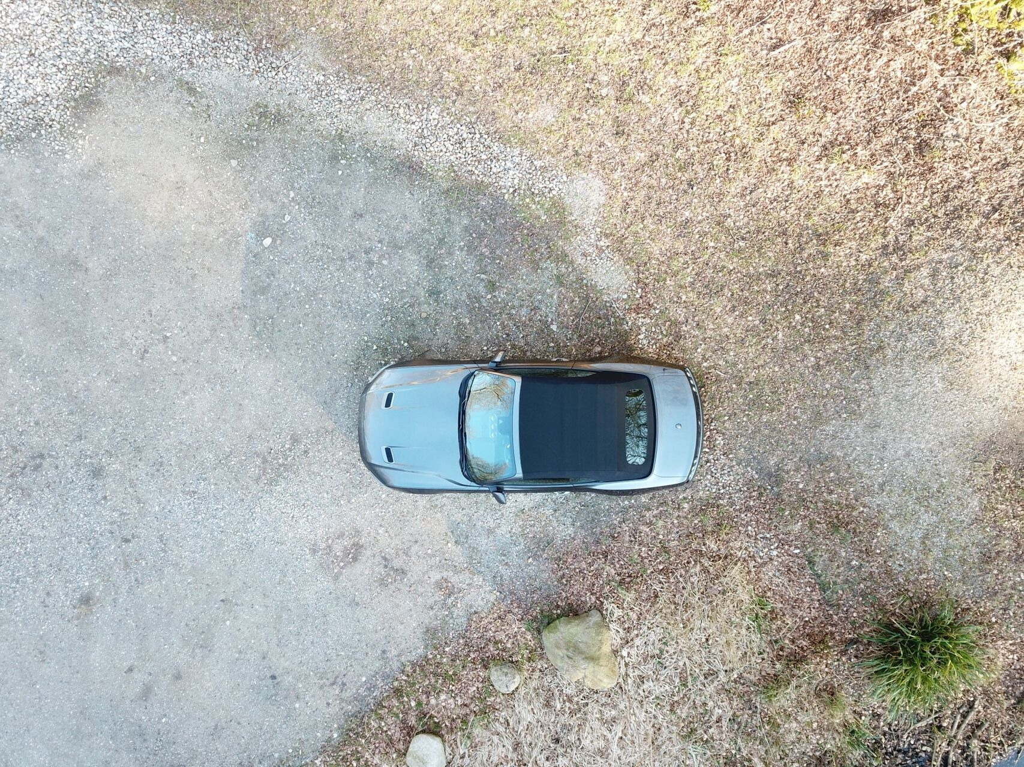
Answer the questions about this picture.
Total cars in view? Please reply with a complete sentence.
The picture shows just 1 car.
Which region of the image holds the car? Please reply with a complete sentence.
Look in the center portion of the view to spot the car.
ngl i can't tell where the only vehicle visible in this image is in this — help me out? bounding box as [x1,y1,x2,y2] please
[358,351,703,506]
